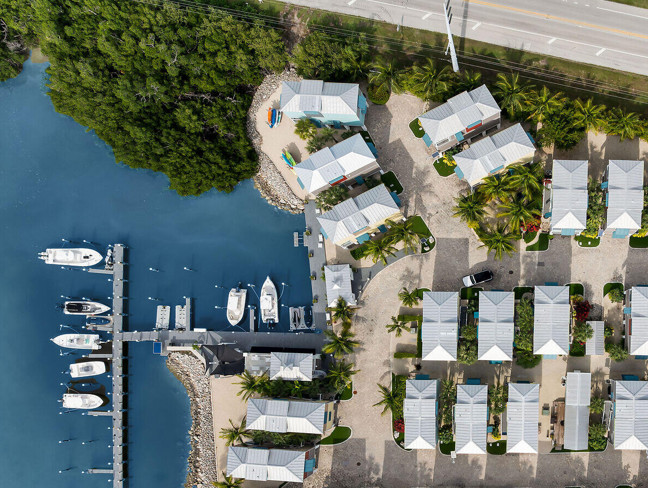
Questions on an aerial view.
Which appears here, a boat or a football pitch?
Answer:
boat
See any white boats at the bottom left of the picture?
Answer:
Yes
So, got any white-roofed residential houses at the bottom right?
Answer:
Yes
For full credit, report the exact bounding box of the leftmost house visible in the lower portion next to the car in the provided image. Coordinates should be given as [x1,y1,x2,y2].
[421,287,464,366]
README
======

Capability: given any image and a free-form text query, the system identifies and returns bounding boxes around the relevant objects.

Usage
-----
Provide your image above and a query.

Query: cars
[463,269,493,288]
